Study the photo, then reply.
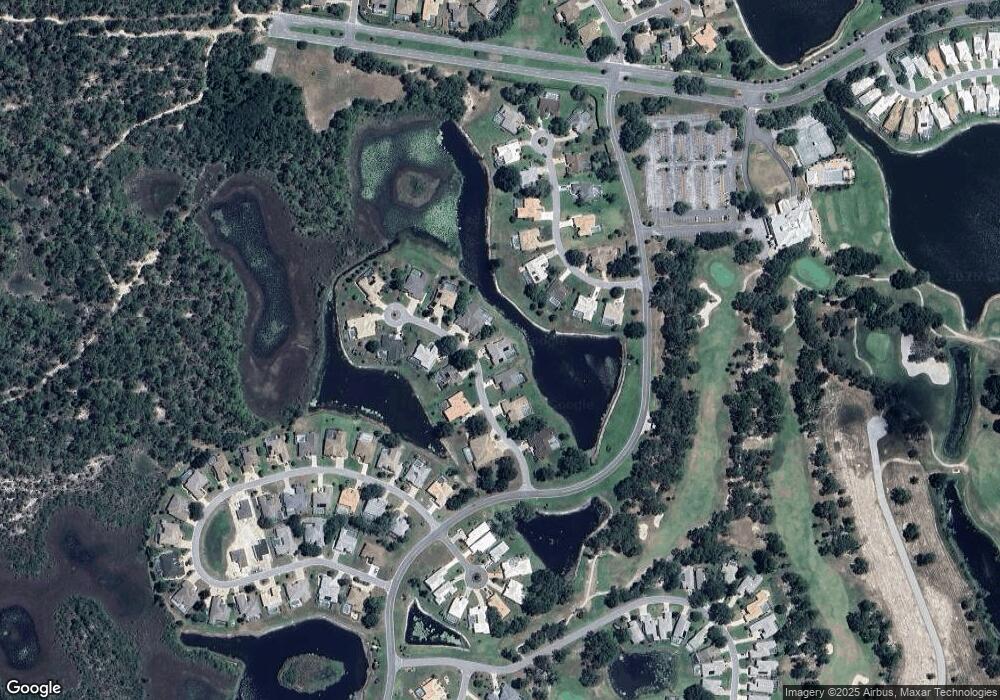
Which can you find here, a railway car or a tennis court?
tennis court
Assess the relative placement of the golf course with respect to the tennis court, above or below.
below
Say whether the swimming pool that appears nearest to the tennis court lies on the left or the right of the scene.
right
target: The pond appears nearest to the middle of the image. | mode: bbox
[518,502,603,573]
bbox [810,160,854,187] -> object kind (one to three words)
swimming pool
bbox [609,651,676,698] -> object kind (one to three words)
pond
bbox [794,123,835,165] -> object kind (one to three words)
tennis court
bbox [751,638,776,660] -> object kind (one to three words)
house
